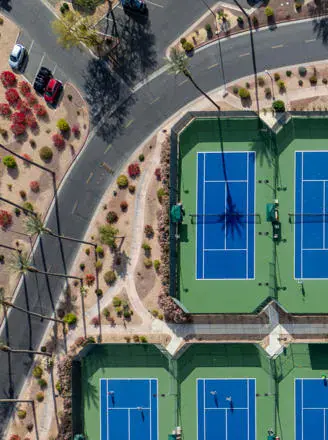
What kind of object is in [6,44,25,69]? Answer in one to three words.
car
